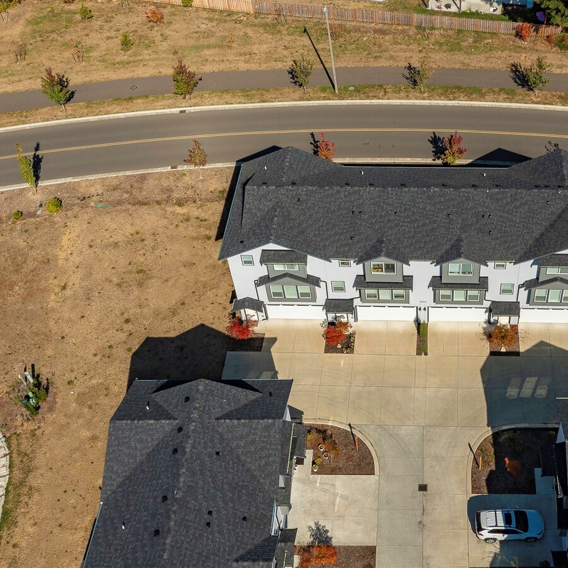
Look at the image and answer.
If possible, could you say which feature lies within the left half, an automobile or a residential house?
residential house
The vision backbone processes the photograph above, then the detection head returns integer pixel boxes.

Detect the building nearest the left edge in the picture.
[82,375,310,568]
